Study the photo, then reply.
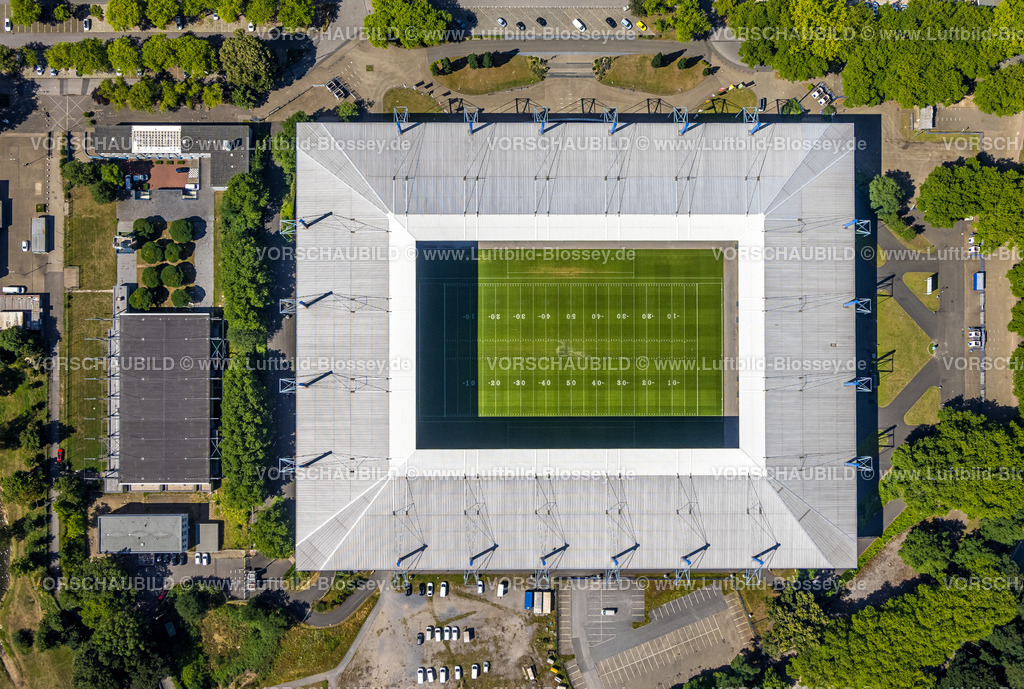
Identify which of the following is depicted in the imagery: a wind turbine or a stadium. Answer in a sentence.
There is a stadium in the scene.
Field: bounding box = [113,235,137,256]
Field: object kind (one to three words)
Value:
building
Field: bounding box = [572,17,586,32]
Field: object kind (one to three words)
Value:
vehicle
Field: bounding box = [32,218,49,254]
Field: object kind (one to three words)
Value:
shed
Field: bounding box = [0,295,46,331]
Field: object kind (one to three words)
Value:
shed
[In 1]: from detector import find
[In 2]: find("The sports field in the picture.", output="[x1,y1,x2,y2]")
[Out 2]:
[416,241,738,448]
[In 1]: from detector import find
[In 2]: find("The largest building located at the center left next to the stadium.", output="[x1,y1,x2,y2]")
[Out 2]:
[84,287,229,493]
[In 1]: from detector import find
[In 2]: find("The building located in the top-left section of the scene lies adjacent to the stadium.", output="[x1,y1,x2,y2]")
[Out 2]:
[95,126,253,191]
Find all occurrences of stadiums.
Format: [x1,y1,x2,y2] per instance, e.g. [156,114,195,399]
[281,107,872,585]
